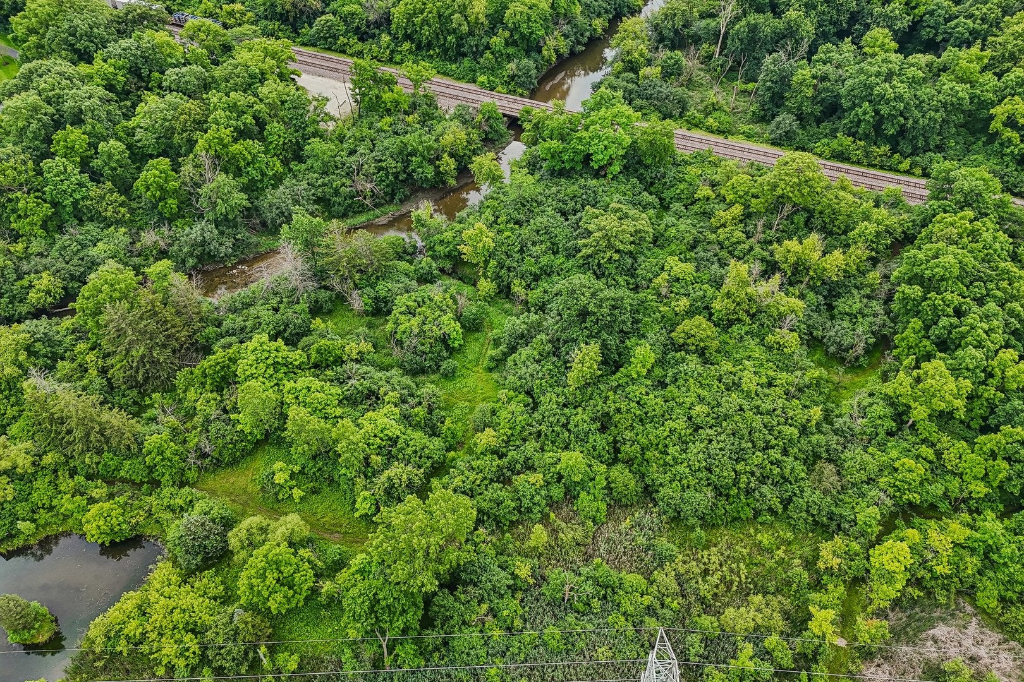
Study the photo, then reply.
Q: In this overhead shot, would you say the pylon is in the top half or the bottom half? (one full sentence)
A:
You can find the pylon in the bottom half.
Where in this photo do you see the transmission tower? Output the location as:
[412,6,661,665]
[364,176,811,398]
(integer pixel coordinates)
[639,627,683,682]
